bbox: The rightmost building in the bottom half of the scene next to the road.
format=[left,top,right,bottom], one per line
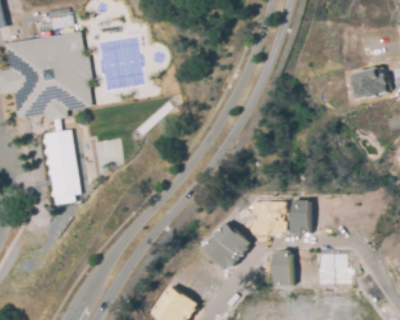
[290,200,312,234]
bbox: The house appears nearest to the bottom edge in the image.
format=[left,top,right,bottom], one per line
[151,287,198,320]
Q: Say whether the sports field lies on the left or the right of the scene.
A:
left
